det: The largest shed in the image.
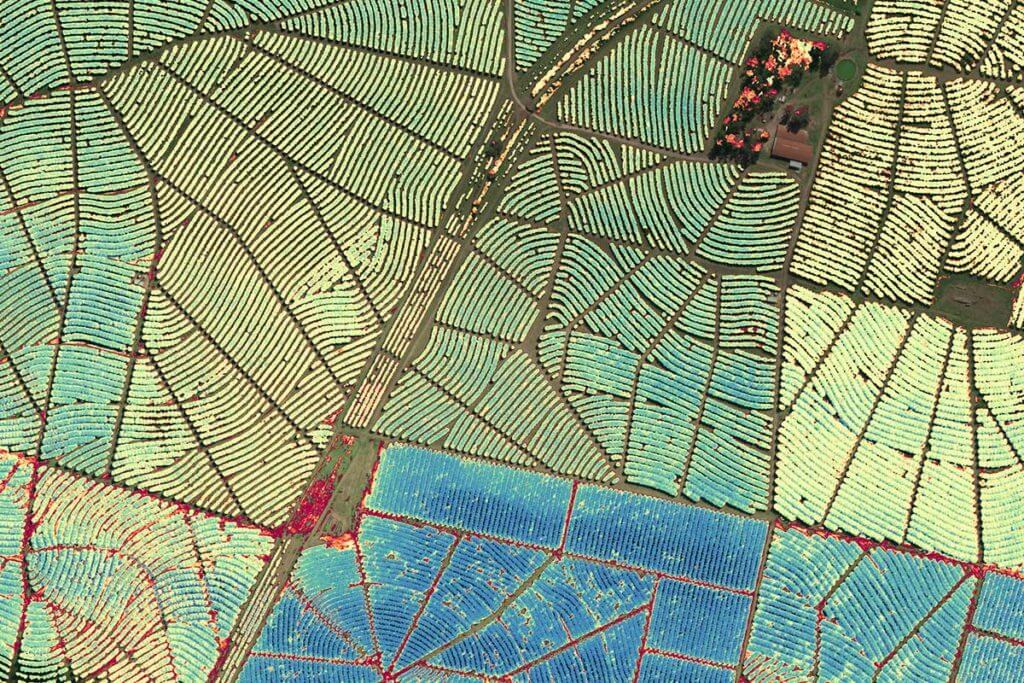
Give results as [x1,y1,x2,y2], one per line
[772,124,813,165]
